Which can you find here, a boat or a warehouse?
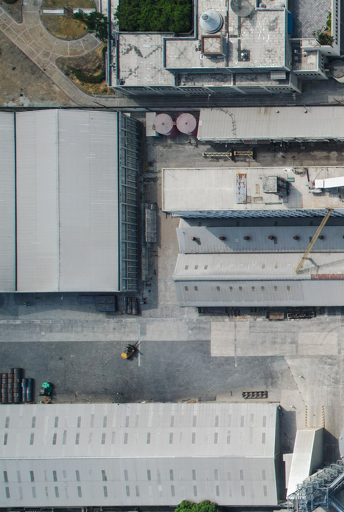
warehouse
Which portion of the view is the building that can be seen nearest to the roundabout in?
top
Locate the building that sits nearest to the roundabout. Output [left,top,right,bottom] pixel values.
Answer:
[99,0,303,95]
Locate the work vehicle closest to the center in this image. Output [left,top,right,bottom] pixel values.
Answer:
[123,341,141,357]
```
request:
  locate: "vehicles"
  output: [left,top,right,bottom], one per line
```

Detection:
[123,341,141,357]
[41,382,53,397]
